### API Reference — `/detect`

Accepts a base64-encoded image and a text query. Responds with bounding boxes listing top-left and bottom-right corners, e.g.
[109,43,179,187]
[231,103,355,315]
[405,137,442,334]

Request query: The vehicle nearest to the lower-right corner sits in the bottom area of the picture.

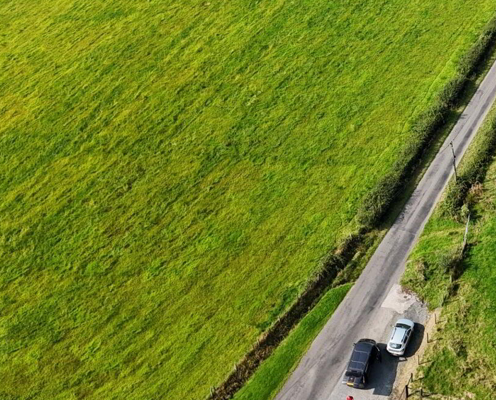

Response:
[385,319,415,358]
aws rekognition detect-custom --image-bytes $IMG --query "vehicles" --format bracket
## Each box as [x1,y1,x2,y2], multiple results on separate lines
[340,338,379,386]
[385,319,415,358]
